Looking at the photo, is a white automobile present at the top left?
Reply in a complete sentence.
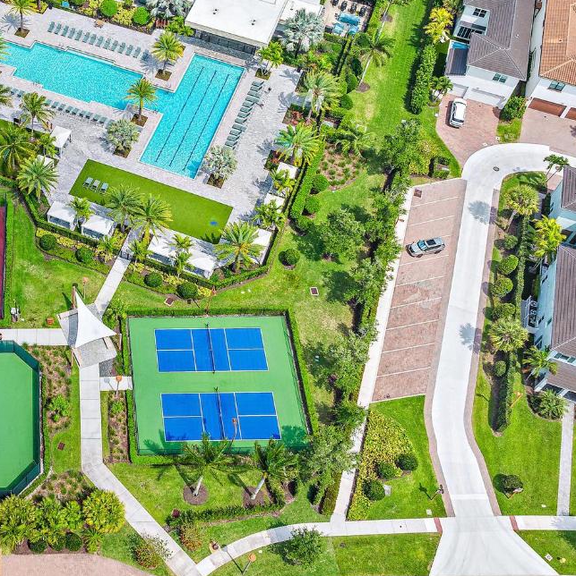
No, there's no white automobile to be seen at the top left.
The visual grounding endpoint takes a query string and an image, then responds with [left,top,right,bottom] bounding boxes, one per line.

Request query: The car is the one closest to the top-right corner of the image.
[449,99,468,125]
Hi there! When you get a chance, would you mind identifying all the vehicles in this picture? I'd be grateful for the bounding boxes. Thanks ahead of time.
[406,235,446,257]
[449,99,468,125]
